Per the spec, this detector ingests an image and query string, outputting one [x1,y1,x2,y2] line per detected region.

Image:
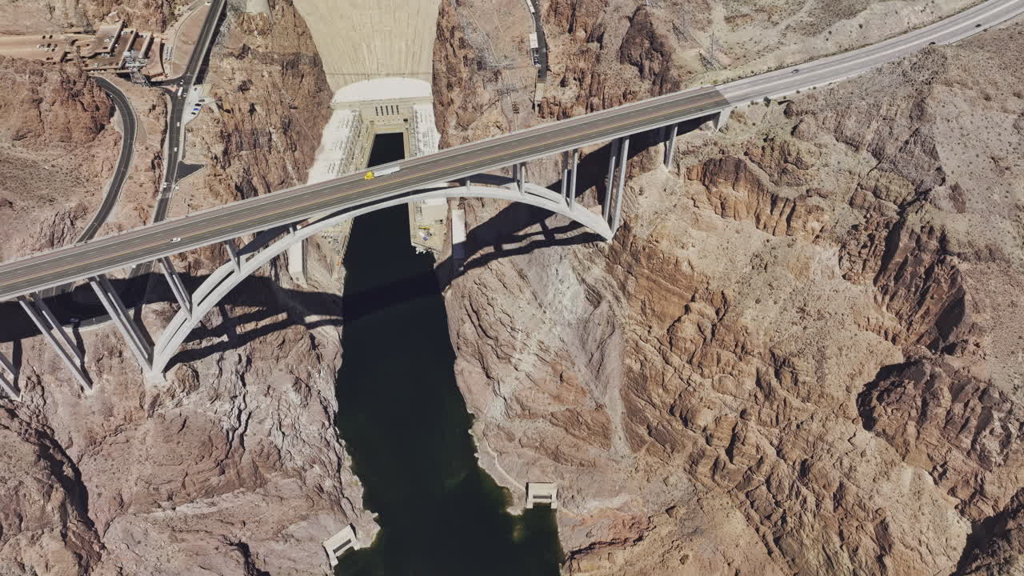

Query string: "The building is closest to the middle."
[452,197,466,272]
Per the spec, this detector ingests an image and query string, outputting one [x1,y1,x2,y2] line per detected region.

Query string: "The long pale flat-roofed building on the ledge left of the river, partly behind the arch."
[288,240,309,291]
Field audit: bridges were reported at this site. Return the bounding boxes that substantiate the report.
[0,82,737,396]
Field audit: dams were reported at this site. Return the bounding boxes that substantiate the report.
[288,0,454,116]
